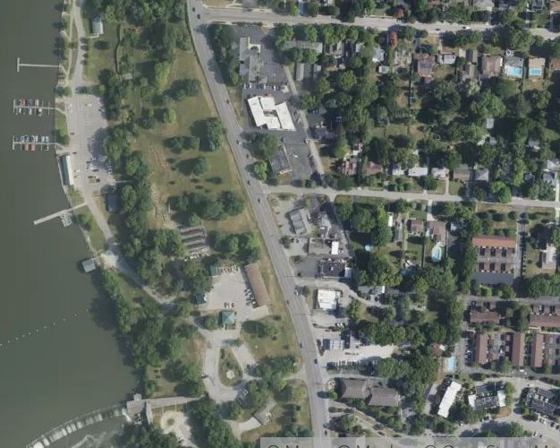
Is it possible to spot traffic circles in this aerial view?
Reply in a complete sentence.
Yes, the image includes a traffic circle.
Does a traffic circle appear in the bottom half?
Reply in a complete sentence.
Yes, I can see a traffic circle in the bottom half.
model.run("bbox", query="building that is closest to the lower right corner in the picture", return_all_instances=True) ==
[523,386,560,420]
